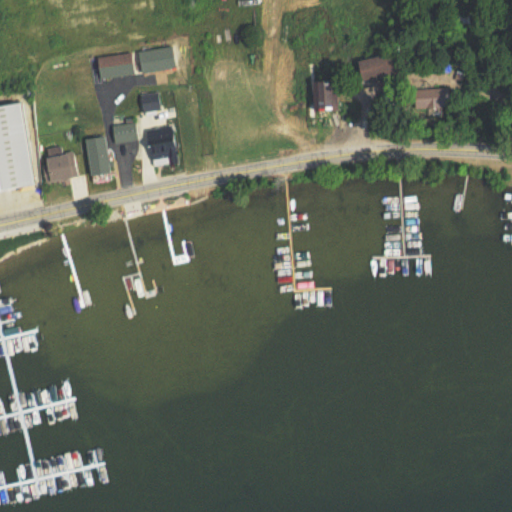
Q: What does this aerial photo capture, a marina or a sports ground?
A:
marina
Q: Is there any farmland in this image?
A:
No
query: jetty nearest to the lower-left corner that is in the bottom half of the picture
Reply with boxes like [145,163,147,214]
[0,318,106,500]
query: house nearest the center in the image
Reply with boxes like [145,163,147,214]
[140,126,179,166]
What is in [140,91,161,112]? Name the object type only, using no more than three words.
shed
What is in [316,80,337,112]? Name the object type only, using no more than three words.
house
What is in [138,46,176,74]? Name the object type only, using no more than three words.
building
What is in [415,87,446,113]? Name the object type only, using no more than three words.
house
